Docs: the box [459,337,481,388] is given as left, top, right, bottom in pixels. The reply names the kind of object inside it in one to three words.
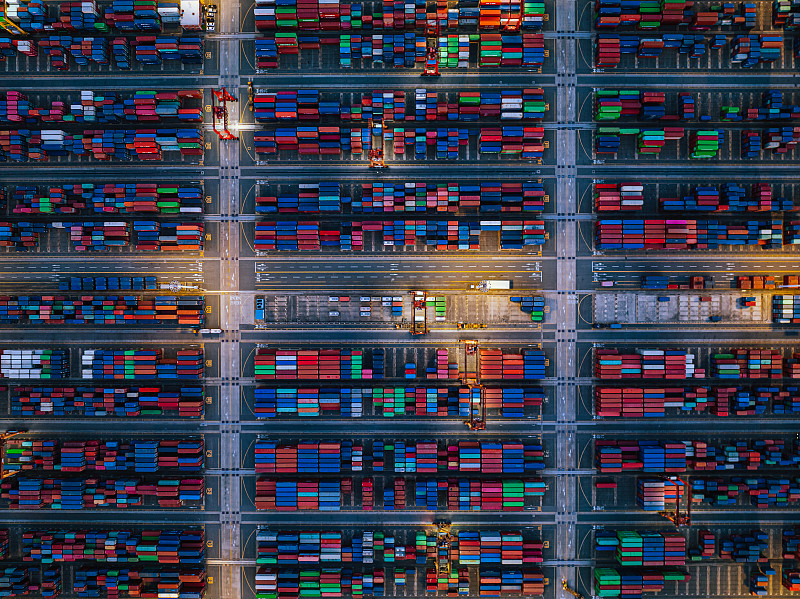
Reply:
container crane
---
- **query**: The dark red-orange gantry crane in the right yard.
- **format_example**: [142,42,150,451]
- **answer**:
[659,471,691,527]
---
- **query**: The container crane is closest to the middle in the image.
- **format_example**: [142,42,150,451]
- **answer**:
[409,288,428,336]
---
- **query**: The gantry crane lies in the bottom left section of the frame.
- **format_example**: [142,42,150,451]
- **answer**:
[0,429,26,483]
